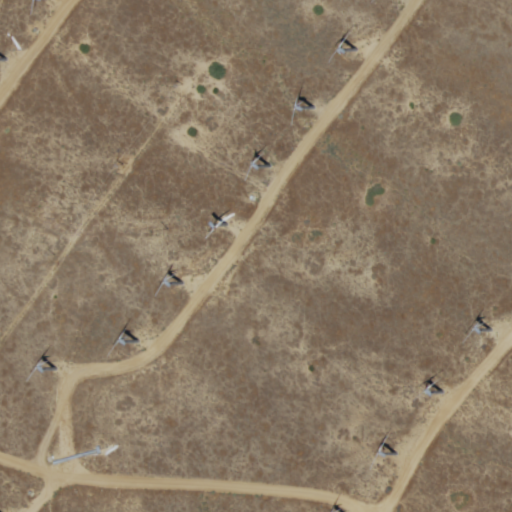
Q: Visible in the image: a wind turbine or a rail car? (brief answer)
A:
wind turbine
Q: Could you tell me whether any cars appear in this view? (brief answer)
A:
No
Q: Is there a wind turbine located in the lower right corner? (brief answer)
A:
Yes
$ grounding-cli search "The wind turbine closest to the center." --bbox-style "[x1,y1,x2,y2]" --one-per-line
[208,216,228,240]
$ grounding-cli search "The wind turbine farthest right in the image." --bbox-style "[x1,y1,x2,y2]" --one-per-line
[462,318,493,342]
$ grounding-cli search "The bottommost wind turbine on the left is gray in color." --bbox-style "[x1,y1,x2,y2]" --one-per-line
[26,358,58,382]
